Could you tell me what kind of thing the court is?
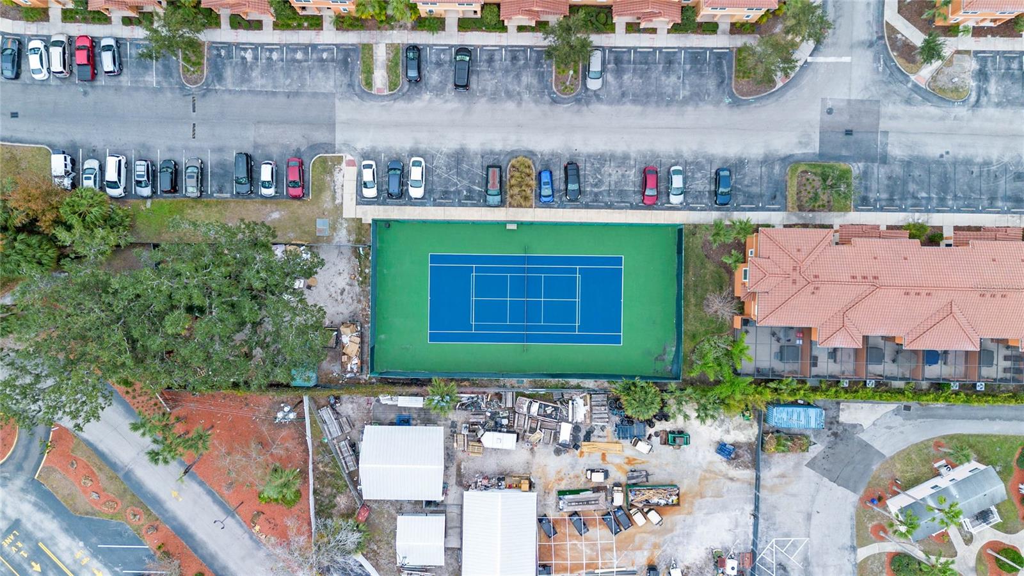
tennis court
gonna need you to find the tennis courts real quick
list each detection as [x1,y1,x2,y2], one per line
[375,223,676,376]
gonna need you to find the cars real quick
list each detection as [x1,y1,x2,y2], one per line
[641,165,659,206]
[51,149,75,189]
[0,39,23,79]
[360,160,379,198]
[159,160,179,193]
[408,157,425,199]
[105,154,129,197]
[386,160,404,199]
[286,158,305,198]
[538,169,554,204]
[259,160,278,197]
[563,159,582,202]
[49,34,74,78]
[485,165,502,206]
[233,152,254,195]
[404,46,421,83]
[586,48,604,90]
[82,156,104,194]
[453,47,472,92]
[134,159,157,198]
[28,40,52,81]
[668,165,686,205]
[184,158,204,198]
[100,37,123,76]
[714,167,733,206]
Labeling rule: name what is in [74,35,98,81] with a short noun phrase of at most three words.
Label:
truck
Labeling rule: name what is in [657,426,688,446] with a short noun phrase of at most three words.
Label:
work vehicle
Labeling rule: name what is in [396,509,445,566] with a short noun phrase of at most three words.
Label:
shed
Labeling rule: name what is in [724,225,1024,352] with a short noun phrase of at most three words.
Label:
house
